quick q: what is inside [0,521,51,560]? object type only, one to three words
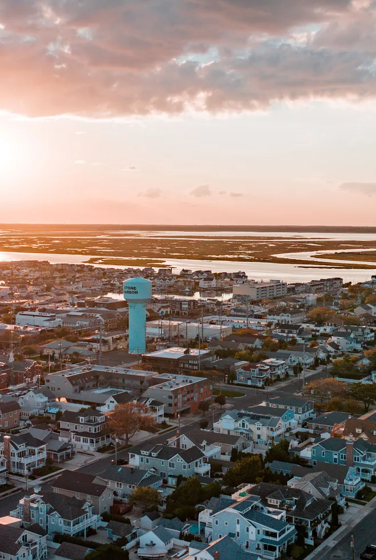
house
